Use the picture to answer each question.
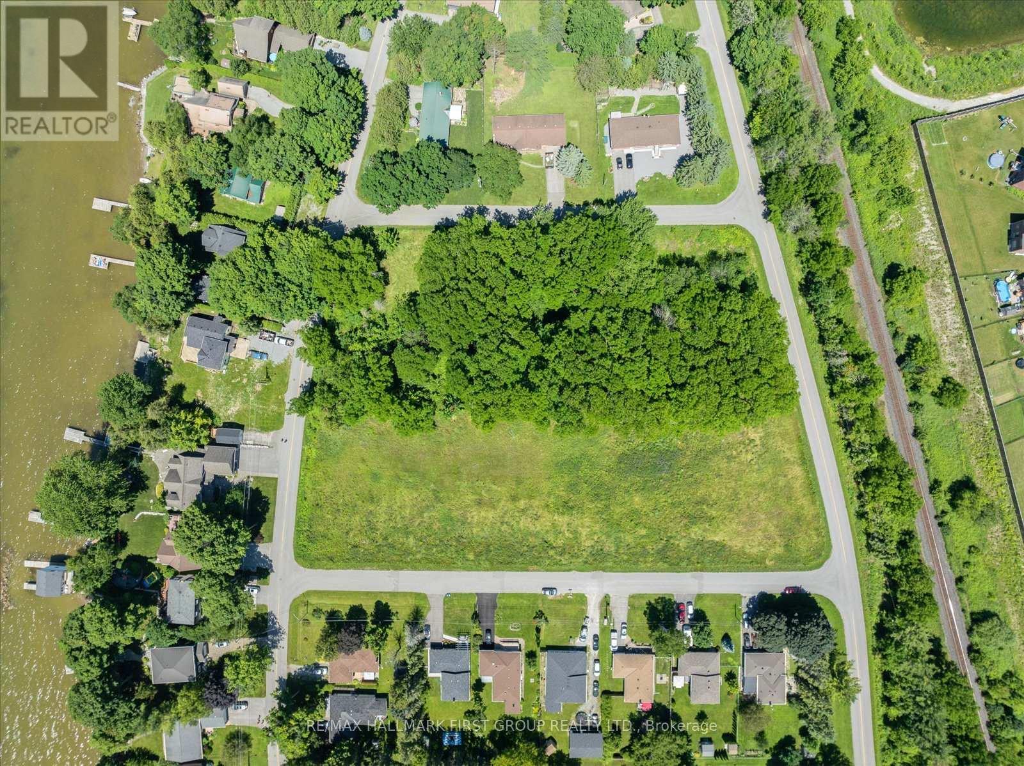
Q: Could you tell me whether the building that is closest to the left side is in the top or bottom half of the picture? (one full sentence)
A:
You can find the building that is closest to the left side in the bottom half.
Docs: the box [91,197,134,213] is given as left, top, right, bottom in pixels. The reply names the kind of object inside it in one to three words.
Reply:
pier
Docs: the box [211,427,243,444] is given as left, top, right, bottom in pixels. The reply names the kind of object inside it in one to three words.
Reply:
building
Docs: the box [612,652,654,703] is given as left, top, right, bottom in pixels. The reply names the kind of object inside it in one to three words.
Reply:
house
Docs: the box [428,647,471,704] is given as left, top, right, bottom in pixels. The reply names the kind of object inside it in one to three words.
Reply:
house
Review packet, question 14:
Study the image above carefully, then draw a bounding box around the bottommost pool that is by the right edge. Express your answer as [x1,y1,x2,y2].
[996,279,1011,303]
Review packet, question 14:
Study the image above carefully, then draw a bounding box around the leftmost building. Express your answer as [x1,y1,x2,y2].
[36,570,66,598]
